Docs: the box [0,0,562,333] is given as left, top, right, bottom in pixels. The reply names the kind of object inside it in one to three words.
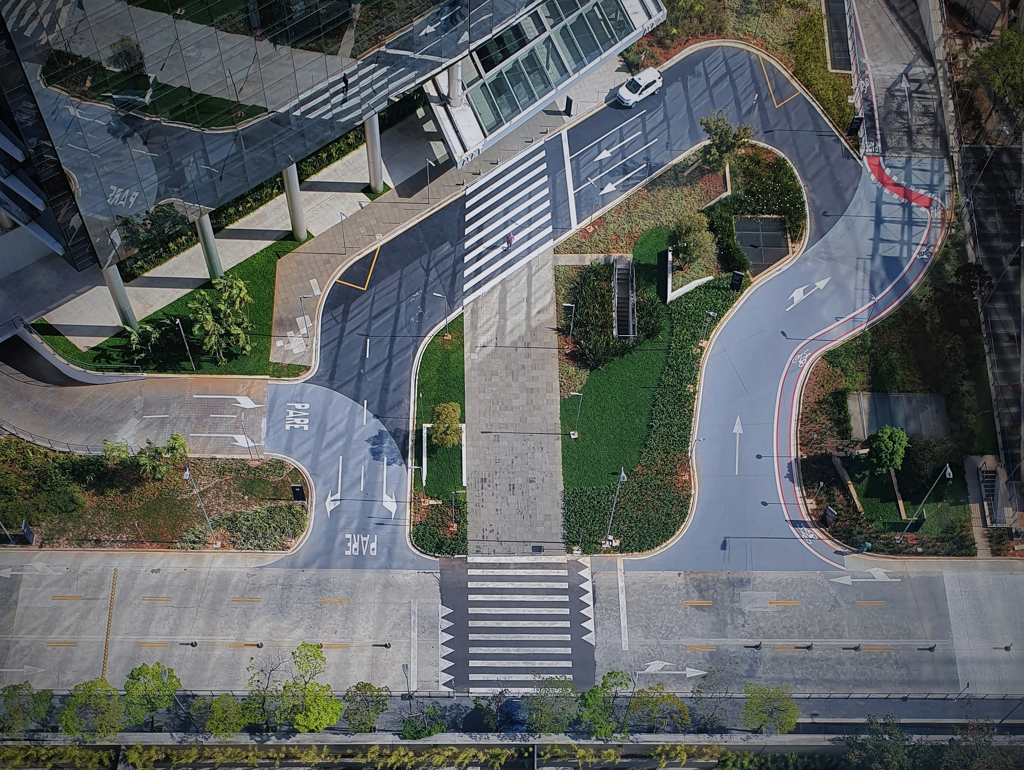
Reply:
building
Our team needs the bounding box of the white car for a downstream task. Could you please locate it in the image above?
[617,66,666,108]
